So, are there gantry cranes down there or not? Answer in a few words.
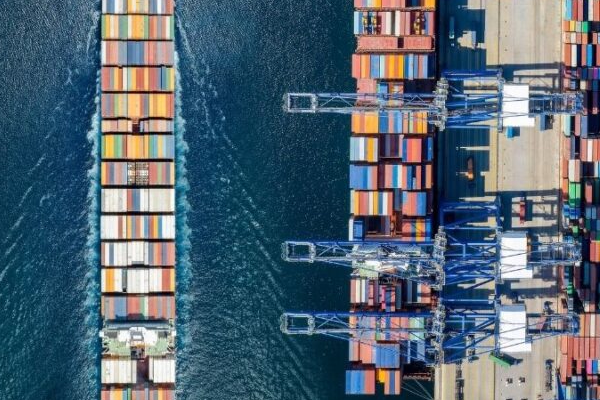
Yes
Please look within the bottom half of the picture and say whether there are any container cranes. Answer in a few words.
Yes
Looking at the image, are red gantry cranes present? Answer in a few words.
No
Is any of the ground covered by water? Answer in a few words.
Yes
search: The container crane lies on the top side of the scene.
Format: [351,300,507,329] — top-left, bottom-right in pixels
[286,71,583,133]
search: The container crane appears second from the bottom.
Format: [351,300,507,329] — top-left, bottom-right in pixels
[285,222,581,284]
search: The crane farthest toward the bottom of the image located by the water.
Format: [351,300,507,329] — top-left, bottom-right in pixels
[285,294,581,356]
